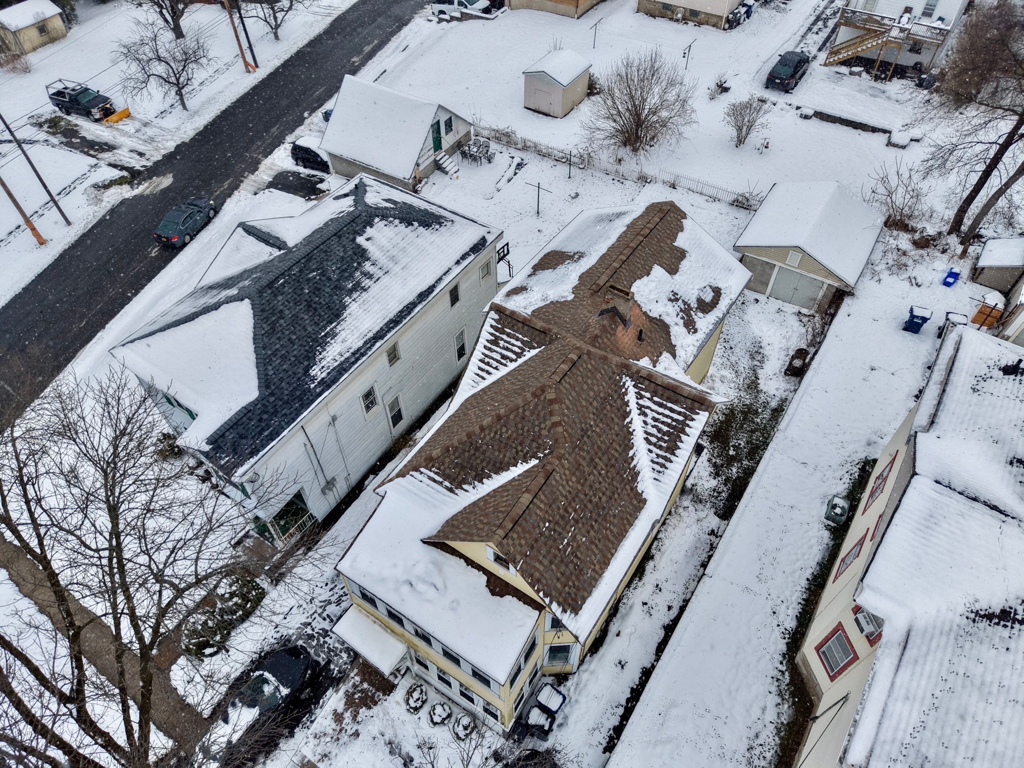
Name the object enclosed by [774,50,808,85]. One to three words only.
car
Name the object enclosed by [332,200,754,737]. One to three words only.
house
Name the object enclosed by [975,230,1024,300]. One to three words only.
shed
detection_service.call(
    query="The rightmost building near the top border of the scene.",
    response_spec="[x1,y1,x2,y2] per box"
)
[825,0,962,76]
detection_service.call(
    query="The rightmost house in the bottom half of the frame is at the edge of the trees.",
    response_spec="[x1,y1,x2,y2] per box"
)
[799,321,1024,768]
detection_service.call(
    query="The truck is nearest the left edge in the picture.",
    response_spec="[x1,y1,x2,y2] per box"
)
[41,76,131,128]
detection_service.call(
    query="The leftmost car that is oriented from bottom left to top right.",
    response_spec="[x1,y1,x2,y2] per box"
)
[151,193,216,246]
